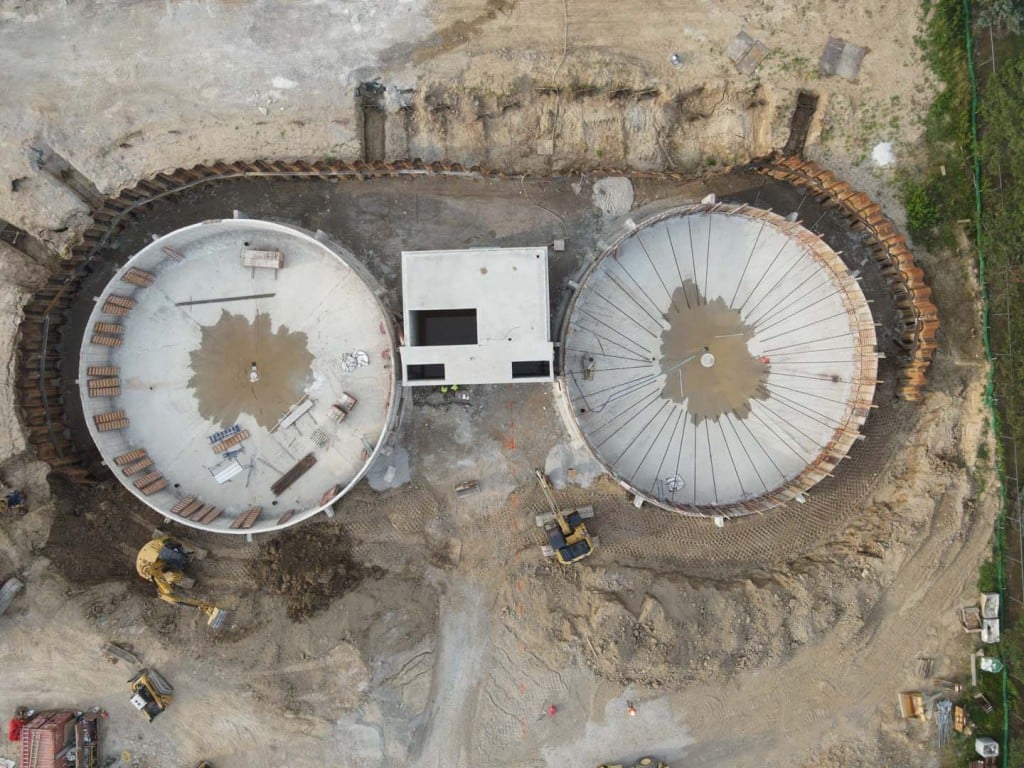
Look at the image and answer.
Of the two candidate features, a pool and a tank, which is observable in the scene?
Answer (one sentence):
The one in the frame is a tank.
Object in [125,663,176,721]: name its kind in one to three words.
work vehicle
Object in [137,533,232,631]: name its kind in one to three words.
work vehicle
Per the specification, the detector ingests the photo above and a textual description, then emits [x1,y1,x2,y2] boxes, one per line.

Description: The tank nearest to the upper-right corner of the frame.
[553,197,883,524]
